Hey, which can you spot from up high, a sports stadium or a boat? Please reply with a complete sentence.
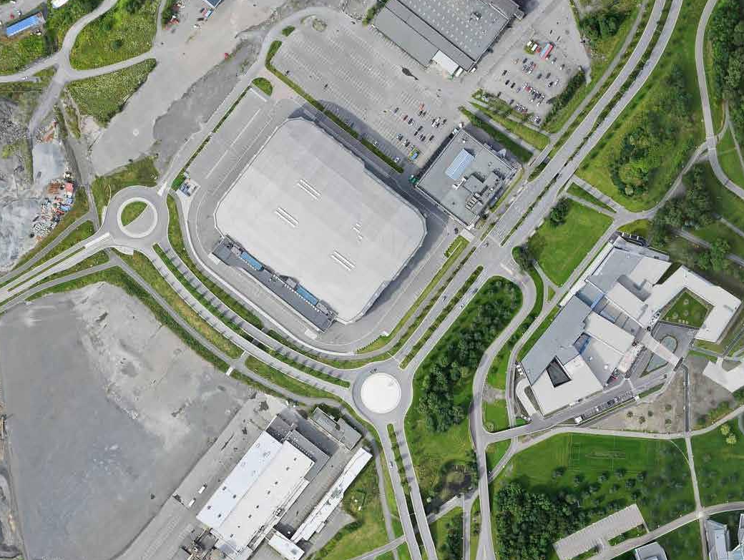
Visible in the photo is a sports stadium.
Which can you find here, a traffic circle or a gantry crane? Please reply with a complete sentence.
Looking from above, you can make out a traffic circle.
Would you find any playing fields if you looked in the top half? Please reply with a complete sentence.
No, in the top half there is no playing field.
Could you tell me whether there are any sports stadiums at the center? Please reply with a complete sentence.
Yes, you'll find a sports stadium at the center.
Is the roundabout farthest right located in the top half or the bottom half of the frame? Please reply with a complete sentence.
The roundabout farthest right sits in the bottom half of the picture.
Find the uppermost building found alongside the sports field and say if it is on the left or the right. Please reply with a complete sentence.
The uppermost building found alongside the sports field appears in the right half of the scene.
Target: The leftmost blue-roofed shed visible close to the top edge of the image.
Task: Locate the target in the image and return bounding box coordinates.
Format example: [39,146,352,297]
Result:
[6,13,46,37]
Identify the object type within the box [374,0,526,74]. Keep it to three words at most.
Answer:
building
